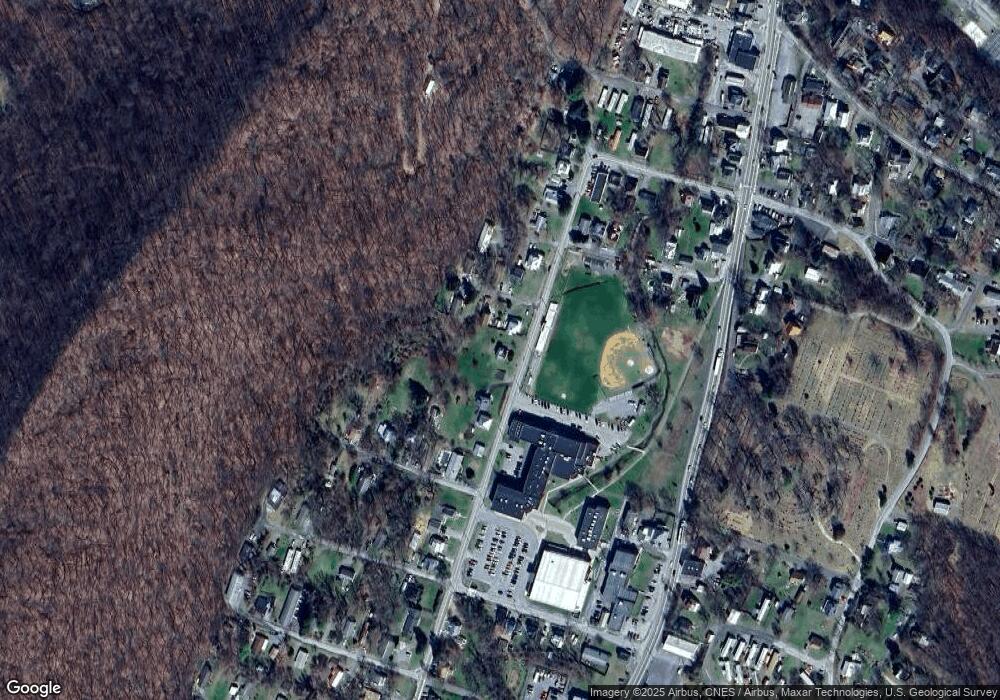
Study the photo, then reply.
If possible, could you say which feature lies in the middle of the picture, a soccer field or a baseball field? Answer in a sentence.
There is a baseball field in the middle of the picture.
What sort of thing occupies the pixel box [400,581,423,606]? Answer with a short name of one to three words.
house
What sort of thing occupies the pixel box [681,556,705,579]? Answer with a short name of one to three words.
house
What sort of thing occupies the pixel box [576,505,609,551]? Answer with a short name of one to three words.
building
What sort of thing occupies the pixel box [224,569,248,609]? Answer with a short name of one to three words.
building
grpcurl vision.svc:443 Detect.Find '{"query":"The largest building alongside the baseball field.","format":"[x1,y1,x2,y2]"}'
[491,421,600,520]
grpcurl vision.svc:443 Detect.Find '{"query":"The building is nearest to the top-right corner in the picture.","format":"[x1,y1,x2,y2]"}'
[963,21,987,46]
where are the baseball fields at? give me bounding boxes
[533,276,657,412]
